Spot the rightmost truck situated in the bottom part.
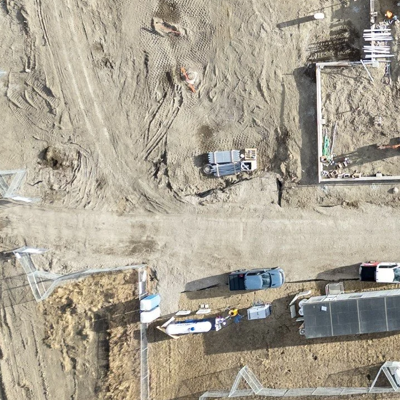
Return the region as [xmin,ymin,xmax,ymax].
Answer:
[361,261,400,286]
